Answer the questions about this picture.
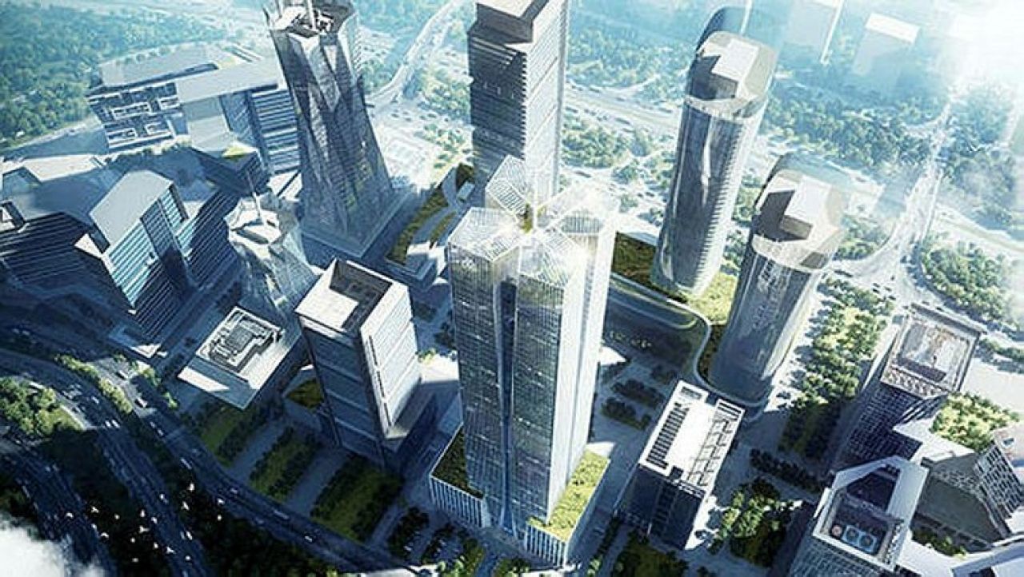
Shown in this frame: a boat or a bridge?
bridge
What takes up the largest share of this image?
buildings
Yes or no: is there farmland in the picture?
No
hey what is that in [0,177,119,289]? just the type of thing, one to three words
building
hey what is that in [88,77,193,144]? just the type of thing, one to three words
building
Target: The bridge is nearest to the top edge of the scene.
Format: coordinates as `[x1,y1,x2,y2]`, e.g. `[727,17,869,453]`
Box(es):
[374,0,473,113]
